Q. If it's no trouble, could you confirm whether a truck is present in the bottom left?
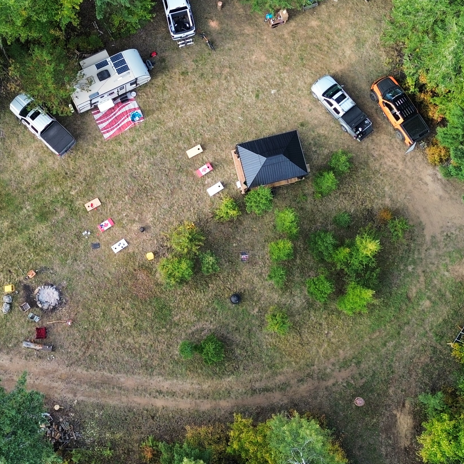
No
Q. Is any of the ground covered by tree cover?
Yes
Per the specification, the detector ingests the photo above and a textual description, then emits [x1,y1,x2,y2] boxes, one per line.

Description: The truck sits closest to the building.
[310,78,373,143]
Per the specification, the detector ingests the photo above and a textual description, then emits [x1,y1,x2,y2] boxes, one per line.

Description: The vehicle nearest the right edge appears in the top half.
[370,78,431,147]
